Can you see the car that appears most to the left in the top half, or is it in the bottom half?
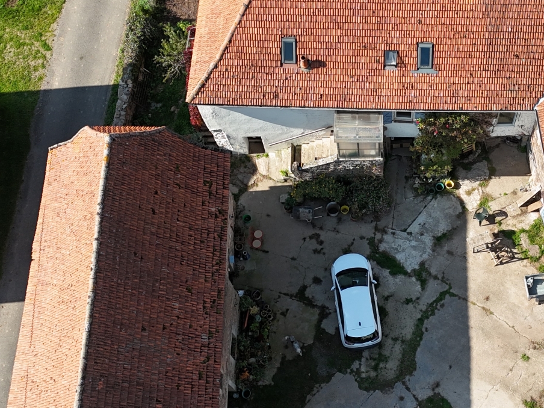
bottom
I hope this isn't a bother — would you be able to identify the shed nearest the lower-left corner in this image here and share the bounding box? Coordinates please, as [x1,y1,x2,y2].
[6,117,251,408]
